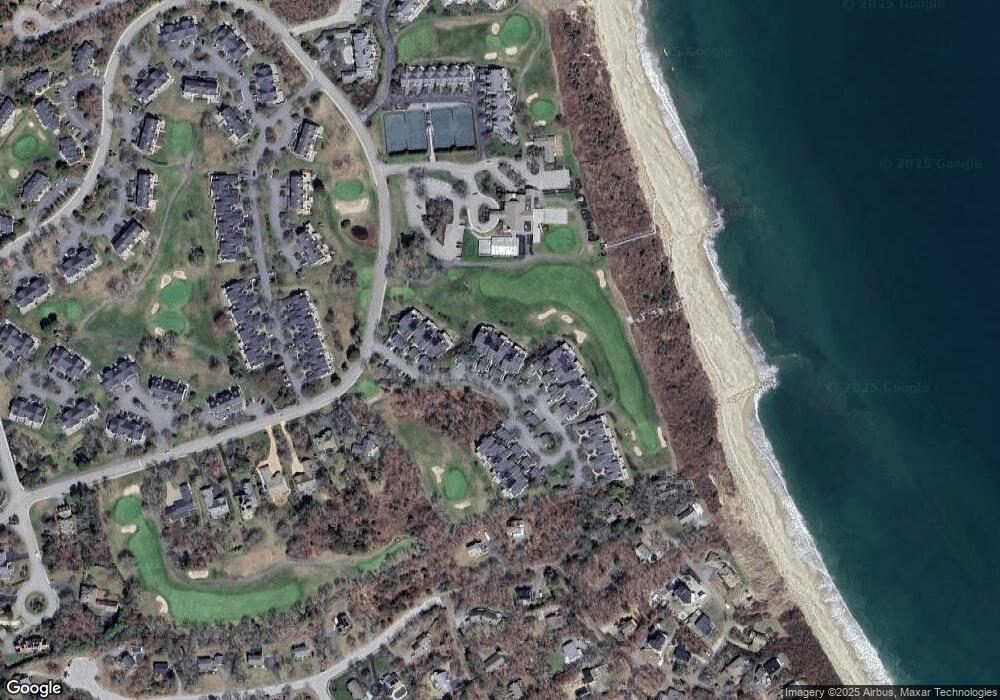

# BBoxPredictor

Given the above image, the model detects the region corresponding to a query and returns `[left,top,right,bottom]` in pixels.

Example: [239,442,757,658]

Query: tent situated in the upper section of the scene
[492,237,519,256]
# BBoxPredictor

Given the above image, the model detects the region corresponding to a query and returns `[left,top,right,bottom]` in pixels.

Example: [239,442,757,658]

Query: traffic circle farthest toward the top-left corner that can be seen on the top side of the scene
[12,8,46,42]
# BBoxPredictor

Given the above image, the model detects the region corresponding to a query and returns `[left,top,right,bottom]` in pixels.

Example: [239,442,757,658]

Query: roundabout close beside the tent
[468,196,500,233]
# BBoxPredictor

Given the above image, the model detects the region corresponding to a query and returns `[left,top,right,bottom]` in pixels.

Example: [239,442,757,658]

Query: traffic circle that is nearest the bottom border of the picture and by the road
[17,582,59,624]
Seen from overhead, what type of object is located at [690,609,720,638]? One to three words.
house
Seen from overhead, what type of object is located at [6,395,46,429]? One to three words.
building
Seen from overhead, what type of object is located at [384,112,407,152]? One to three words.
tennis court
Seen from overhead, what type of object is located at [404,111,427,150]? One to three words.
tennis court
